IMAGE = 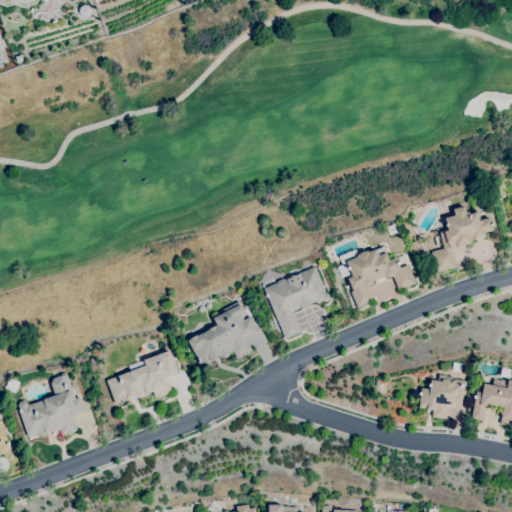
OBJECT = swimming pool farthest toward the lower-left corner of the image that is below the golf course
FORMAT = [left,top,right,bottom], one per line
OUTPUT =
[26,385,48,400]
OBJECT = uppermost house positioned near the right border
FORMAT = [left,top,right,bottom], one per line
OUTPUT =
[432,204,499,274]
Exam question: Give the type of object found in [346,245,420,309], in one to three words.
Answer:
house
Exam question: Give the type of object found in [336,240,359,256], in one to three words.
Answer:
swimming pool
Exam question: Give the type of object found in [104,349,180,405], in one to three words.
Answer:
house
